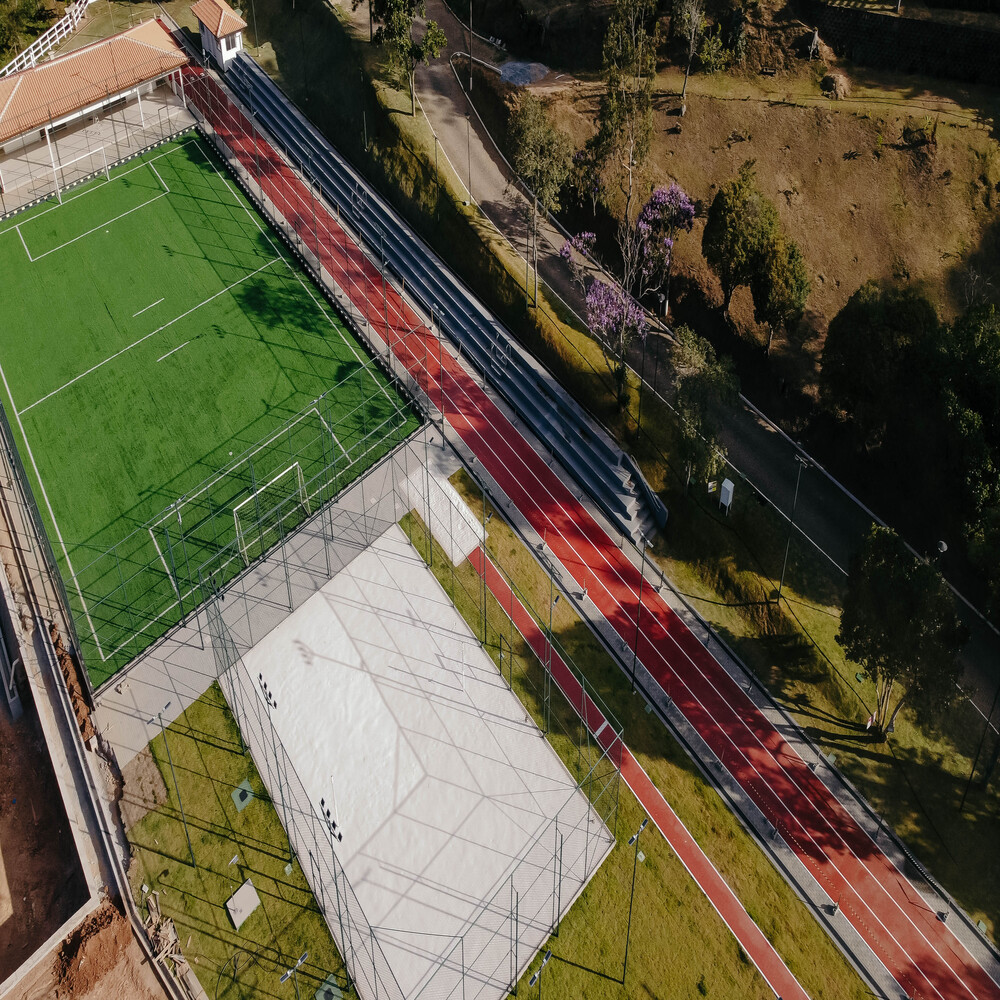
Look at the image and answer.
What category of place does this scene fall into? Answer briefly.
sports ground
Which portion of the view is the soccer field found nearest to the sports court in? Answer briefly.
left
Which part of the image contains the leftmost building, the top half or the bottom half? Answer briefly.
top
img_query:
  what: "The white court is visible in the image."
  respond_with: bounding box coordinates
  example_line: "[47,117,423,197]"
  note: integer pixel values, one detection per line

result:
[216,518,619,1000]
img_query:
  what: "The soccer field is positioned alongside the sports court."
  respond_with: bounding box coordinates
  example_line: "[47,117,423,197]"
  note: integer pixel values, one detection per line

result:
[0,129,421,688]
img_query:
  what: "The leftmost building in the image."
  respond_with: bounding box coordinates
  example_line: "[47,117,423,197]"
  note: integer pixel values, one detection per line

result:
[0,18,190,191]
